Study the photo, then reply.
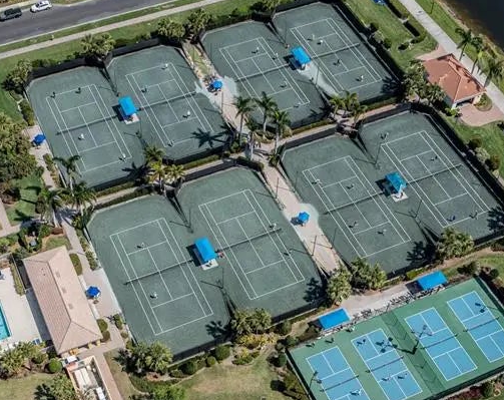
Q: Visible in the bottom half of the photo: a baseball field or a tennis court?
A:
tennis court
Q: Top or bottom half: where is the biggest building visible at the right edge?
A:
top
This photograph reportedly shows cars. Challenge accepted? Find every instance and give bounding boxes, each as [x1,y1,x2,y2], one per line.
[0,7,21,21]
[31,0,52,13]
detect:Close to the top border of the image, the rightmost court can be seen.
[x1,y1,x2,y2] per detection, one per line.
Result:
[272,1,405,110]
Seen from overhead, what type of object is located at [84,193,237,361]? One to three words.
tennis court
